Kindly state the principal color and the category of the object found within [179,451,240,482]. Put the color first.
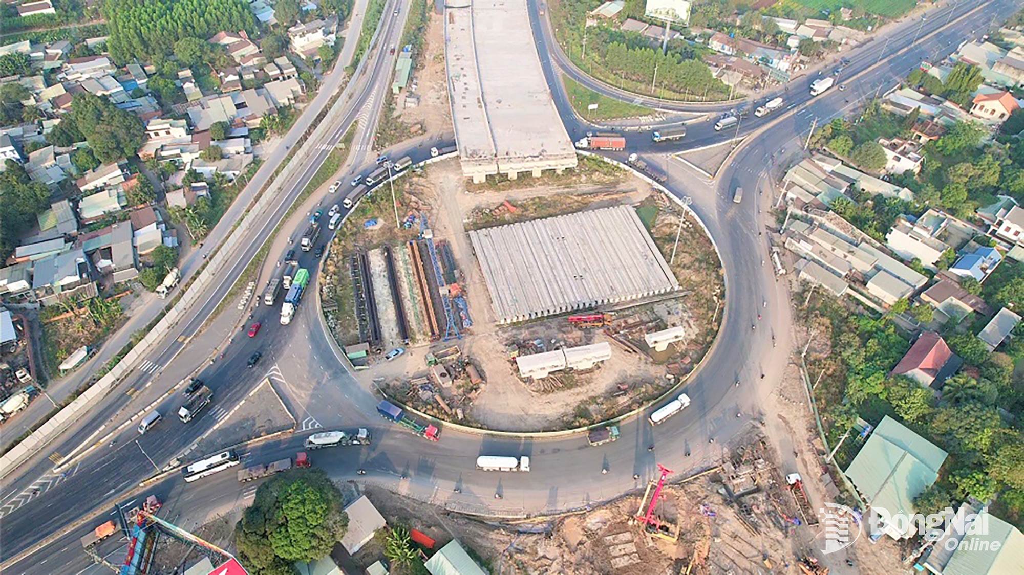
white bus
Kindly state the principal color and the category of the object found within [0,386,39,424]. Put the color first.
white truck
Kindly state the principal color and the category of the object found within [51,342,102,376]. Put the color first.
white vehicle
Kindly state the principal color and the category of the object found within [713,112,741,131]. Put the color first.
white vehicle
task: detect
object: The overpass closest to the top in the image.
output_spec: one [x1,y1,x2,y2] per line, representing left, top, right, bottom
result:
[443,0,577,182]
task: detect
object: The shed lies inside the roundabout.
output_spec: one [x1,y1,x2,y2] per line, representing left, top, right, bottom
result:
[344,342,371,360]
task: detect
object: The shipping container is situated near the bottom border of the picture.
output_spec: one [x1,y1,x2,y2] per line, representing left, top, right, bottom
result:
[407,523,438,551]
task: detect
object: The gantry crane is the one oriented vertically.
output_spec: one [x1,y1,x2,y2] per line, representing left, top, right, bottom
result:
[419,231,461,340]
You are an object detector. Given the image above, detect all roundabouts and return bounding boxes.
[316,147,727,437]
